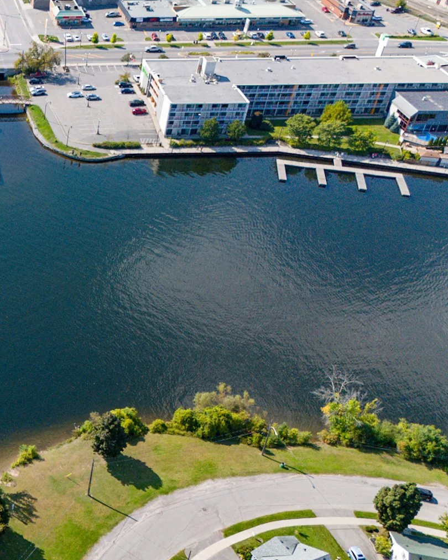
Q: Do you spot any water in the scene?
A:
Yes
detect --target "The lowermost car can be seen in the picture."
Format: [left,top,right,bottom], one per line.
[346,541,372,560]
